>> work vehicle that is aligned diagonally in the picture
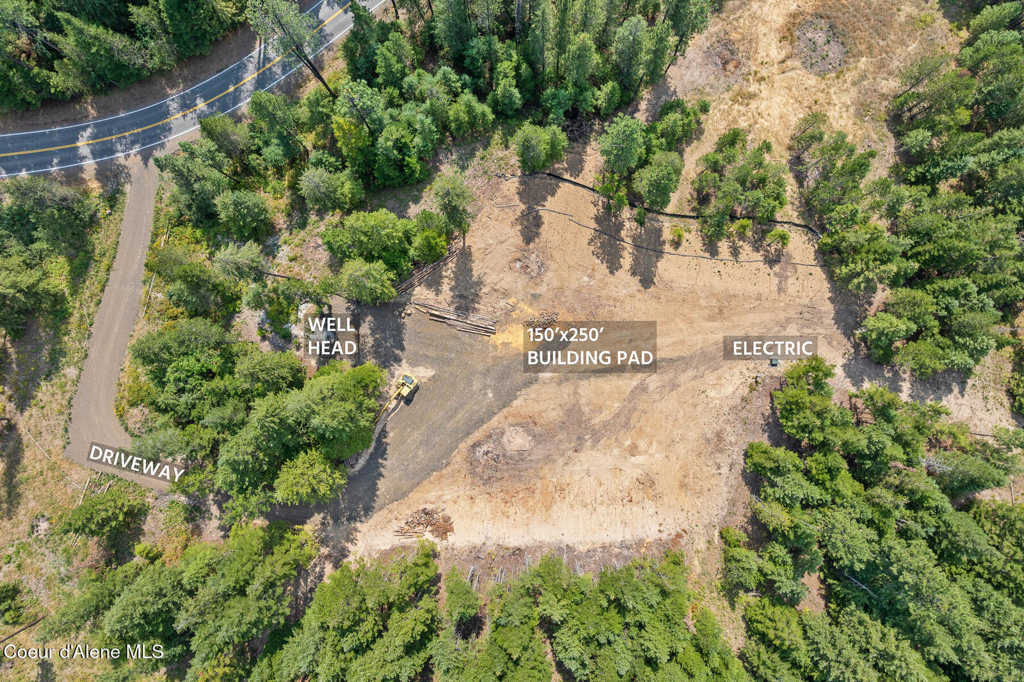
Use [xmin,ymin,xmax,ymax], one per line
[375,373,421,427]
